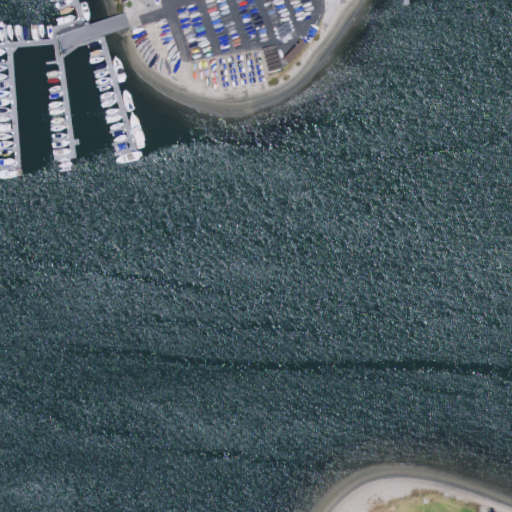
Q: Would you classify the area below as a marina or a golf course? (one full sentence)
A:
What you see here is a marina.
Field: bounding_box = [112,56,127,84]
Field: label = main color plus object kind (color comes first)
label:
white boat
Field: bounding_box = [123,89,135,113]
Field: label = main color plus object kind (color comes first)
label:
white boat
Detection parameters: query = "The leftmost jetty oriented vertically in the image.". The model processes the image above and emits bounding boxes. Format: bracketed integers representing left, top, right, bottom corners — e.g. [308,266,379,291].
[0,46,22,176]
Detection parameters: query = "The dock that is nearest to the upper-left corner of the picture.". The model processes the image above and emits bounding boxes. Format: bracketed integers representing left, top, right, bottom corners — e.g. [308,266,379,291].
[0,24,54,47]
